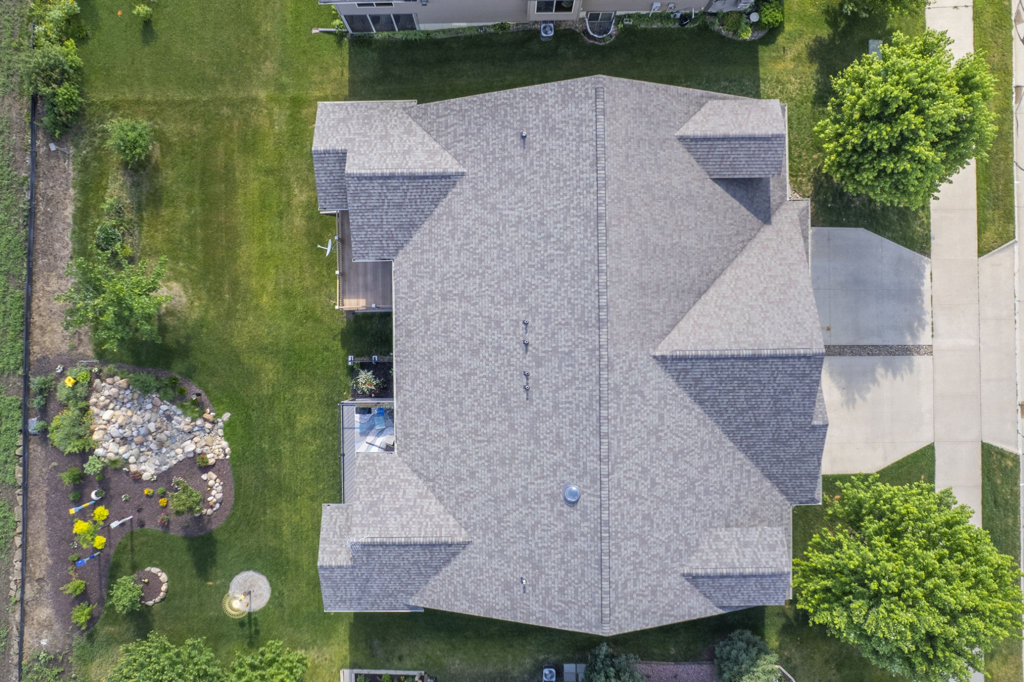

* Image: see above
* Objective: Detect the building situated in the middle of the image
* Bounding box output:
[313,75,830,636]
